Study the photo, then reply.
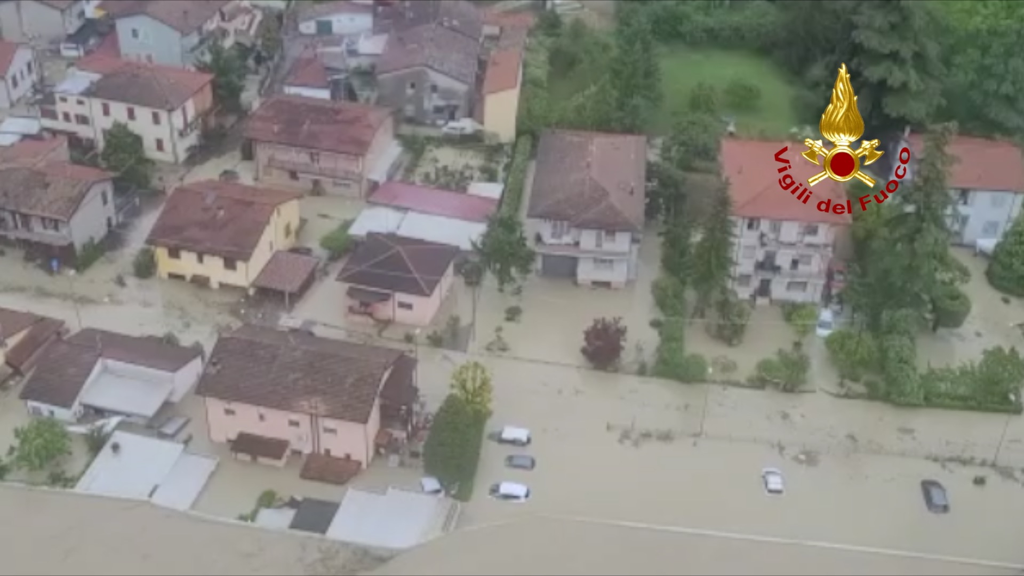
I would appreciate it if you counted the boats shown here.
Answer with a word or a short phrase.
0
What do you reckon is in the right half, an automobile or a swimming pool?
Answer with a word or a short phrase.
automobile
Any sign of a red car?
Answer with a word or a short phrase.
No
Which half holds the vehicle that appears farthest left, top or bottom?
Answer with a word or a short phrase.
top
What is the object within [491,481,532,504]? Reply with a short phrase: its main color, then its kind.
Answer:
white car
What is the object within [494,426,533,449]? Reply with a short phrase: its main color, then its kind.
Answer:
white vehicle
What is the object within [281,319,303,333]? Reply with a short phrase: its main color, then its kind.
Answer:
white car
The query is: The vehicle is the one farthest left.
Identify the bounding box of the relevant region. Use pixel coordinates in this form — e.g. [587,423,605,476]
[58,37,85,58]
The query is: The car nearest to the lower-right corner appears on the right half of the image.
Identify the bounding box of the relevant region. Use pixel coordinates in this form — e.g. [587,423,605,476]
[919,480,953,518]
